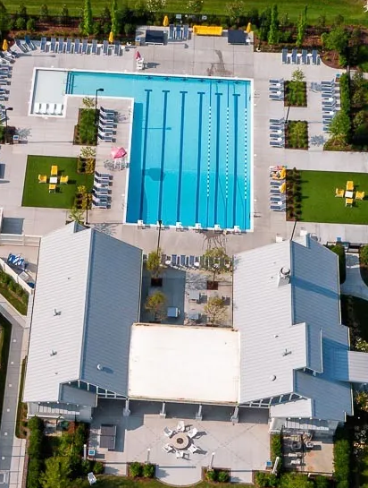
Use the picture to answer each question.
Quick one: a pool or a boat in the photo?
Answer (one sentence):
Of the two, only a pool appears.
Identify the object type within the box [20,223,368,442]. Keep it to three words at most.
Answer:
building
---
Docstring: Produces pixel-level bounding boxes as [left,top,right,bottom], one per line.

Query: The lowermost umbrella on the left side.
[105,144,123,159]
